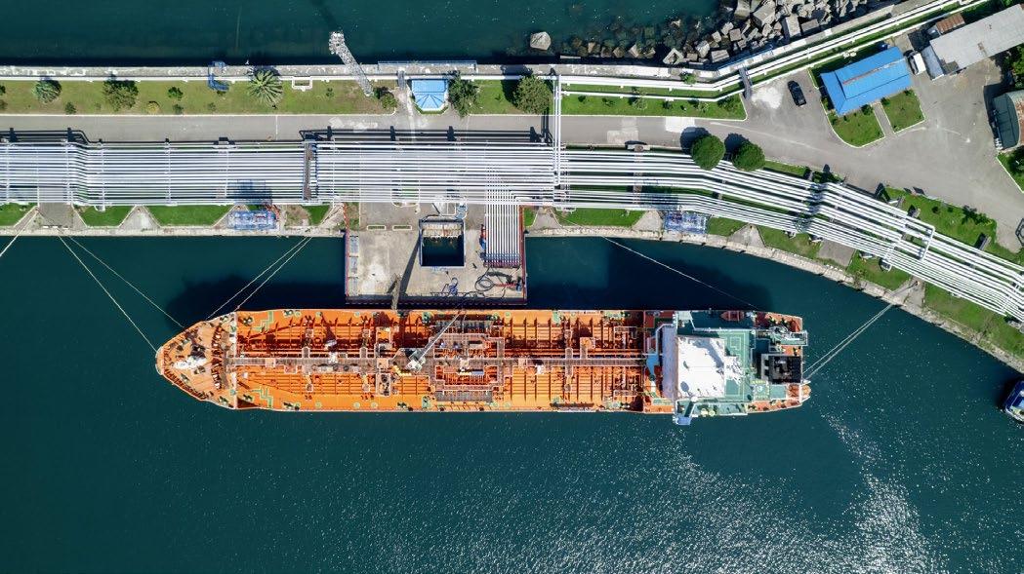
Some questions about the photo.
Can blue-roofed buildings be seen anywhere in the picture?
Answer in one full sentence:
Yes, a blue-roofed building appears in the view.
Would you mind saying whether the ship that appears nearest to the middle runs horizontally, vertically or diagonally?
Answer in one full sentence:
I'd say the ship that appears nearest to the middle is aligned horizontally in the picture.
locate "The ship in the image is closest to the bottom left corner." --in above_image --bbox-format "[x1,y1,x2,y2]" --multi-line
[155,309,812,426]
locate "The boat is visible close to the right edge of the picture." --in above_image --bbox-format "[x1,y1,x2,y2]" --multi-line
[999,381,1024,421]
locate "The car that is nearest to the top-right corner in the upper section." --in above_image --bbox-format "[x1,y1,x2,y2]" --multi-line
[918,28,936,43]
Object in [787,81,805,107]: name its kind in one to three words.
car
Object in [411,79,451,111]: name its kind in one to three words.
building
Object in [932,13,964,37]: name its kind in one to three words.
shed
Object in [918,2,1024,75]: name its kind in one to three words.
building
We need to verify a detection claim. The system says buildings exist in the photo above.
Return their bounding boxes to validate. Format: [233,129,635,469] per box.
[932,13,964,37]
[815,45,912,116]
[411,79,451,111]
[992,94,1024,146]
[918,2,1024,75]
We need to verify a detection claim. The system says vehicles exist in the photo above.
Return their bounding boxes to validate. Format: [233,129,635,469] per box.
[905,52,926,79]
[869,40,892,55]
[787,81,805,107]
[918,28,936,43]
